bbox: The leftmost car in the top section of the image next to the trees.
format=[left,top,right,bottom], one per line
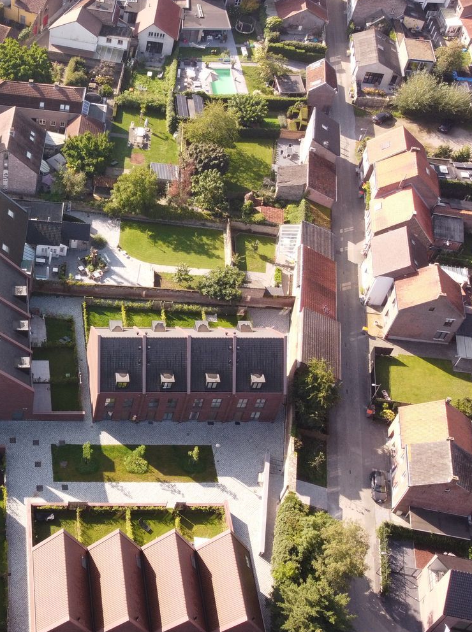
[368,111,396,127]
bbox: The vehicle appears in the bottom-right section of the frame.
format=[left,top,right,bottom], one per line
[368,468,390,505]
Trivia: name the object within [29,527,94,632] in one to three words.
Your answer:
house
